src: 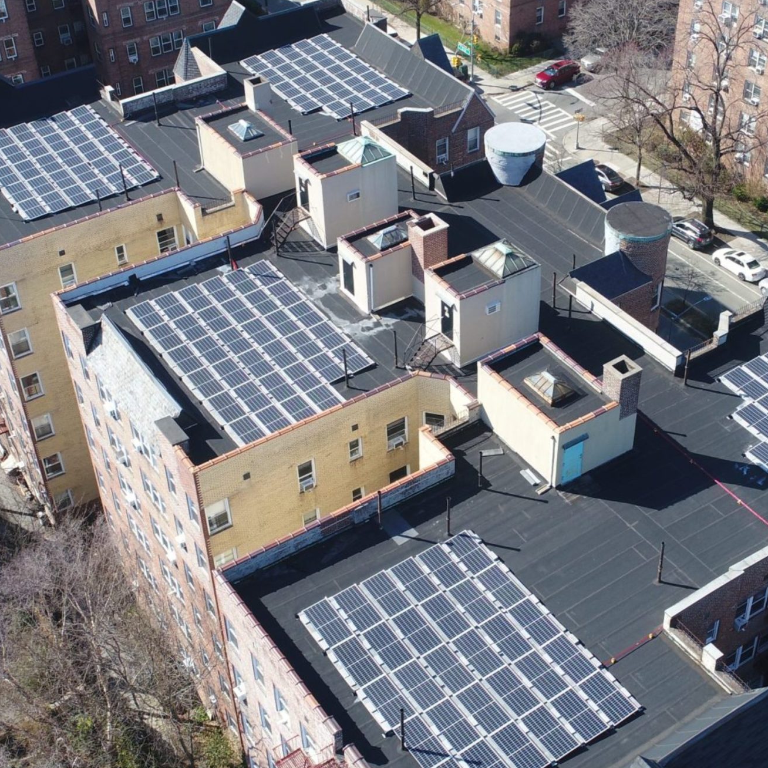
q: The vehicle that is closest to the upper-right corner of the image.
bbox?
[582,49,629,73]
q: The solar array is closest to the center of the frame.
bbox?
[125,260,373,450]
